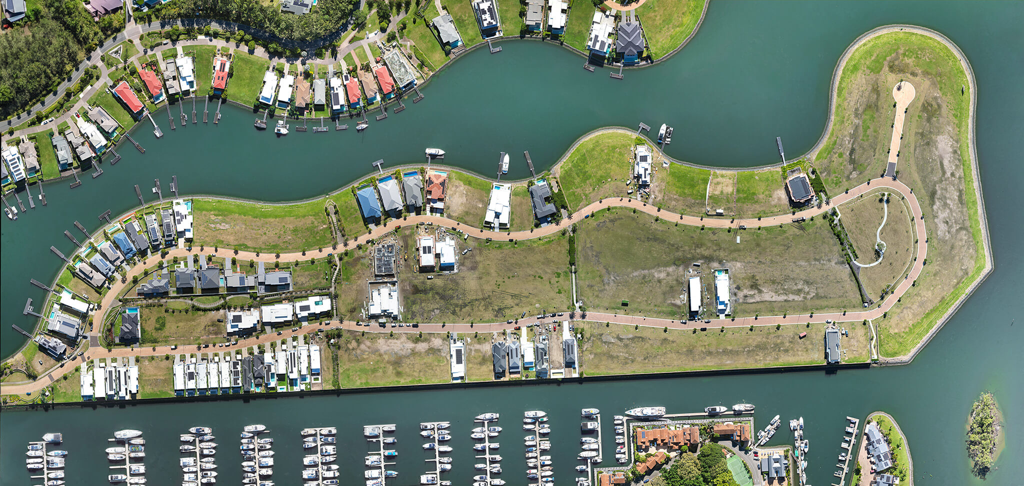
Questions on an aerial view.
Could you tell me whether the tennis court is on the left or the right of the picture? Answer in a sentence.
The tennis court is on the right side of the image.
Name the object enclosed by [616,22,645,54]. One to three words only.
house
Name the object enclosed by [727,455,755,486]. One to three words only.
tennis court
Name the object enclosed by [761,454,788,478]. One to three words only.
building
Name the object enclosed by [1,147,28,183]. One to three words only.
house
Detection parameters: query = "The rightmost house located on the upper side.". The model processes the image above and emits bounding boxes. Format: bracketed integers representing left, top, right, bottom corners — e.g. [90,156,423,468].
[785,175,817,205]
